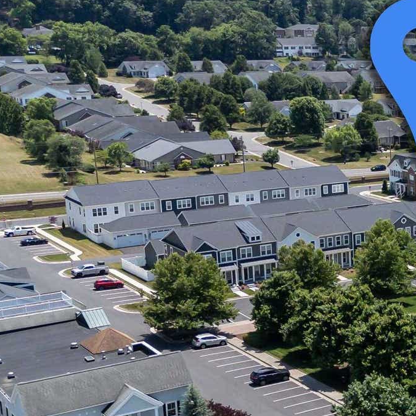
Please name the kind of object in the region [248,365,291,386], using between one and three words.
car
